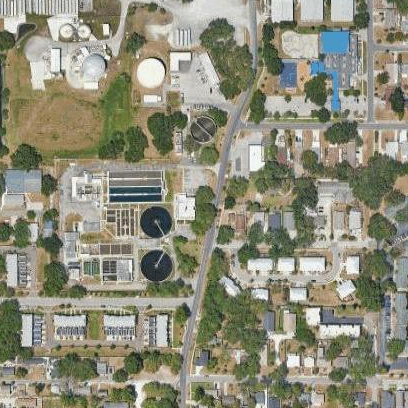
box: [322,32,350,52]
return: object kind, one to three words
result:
building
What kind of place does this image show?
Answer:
residential area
